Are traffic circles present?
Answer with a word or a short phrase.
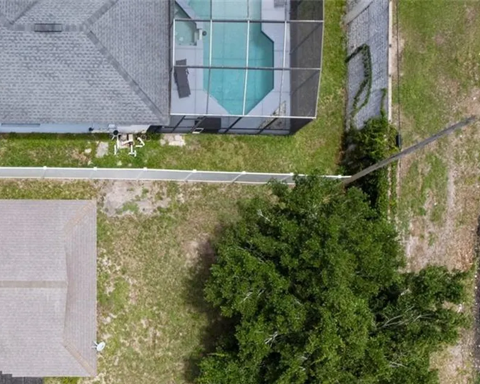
No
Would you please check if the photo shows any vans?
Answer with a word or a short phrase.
No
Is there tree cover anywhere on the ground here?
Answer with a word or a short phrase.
Yes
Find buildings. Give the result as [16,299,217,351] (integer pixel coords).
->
[0,0,172,131]
[0,196,100,384]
